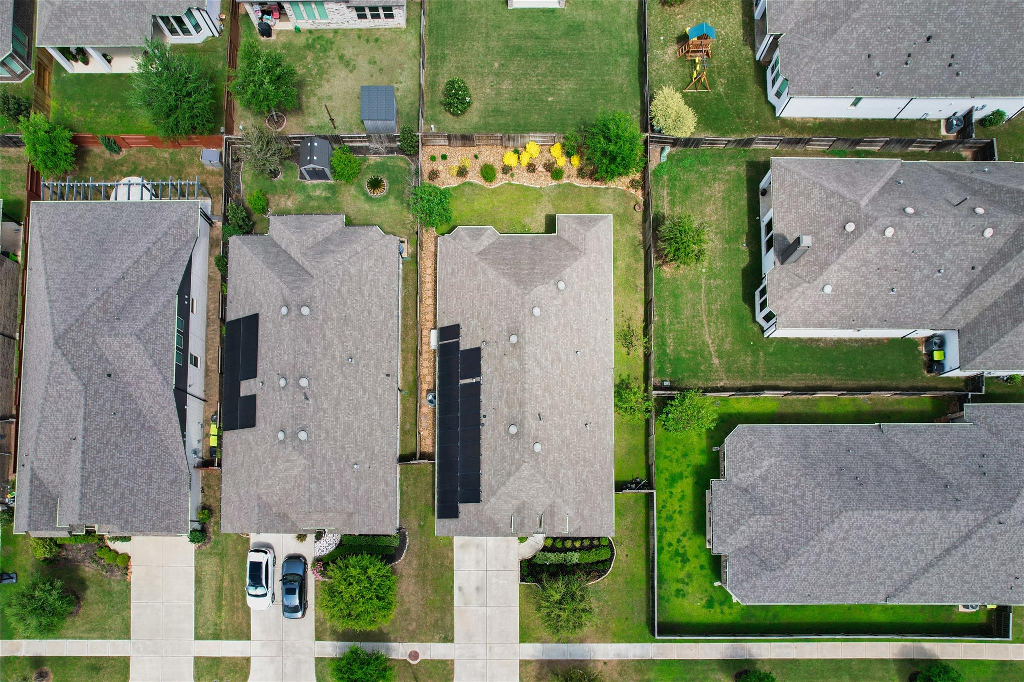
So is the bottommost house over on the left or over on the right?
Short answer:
right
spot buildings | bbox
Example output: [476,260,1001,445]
[755,0,1024,123]
[0,198,21,490]
[235,0,407,29]
[220,213,403,535]
[756,156,1024,376]
[361,85,398,135]
[435,214,622,538]
[13,201,213,537]
[35,0,219,73]
[300,136,335,178]
[707,403,1024,607]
